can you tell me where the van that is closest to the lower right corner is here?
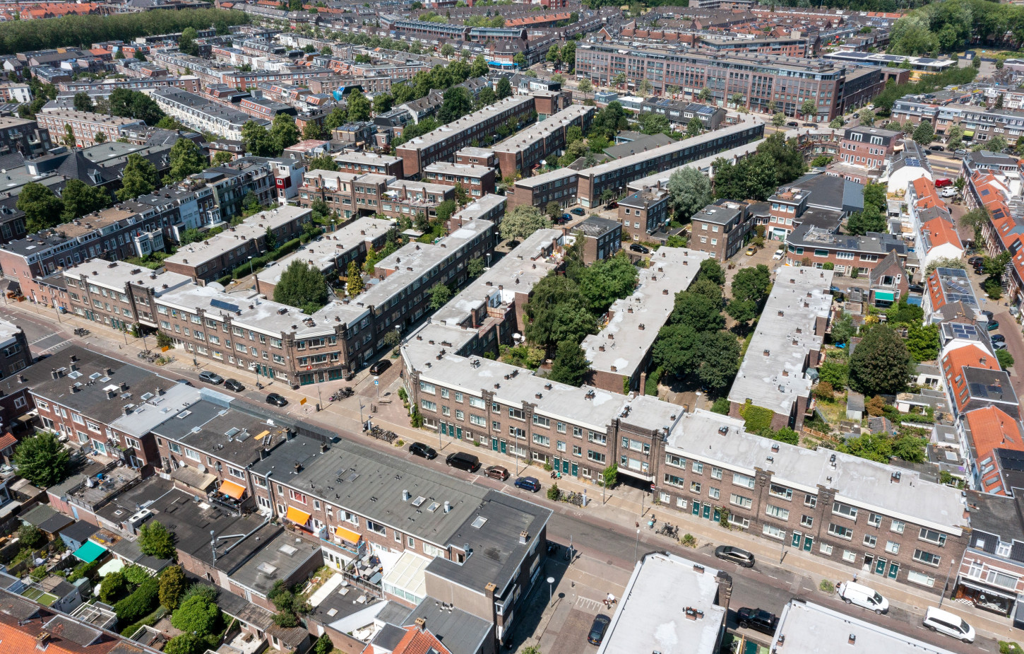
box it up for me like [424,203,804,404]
[921,605,974,642]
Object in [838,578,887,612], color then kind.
white van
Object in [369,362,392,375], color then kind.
black vehicle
